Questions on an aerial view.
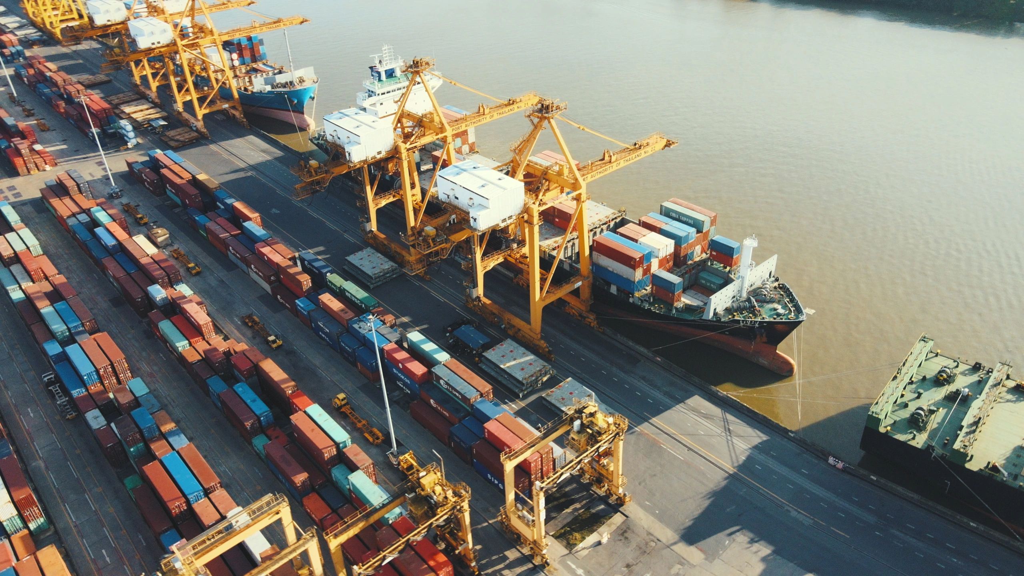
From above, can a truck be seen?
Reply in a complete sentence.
Yes, the photo shows a truck.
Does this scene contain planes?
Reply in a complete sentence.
No, no plane can be seen from above.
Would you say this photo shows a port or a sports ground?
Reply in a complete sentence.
The picture captures a port.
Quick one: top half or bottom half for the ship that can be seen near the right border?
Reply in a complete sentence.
The ship that can be seen near the right border is in the bottom half of the image.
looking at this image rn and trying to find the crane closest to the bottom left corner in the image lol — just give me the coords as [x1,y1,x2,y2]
[163,489,337,576]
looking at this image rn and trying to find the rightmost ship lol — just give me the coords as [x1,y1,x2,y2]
[859,328,1024,535]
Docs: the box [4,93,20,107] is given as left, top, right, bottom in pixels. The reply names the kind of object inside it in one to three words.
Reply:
vehicle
